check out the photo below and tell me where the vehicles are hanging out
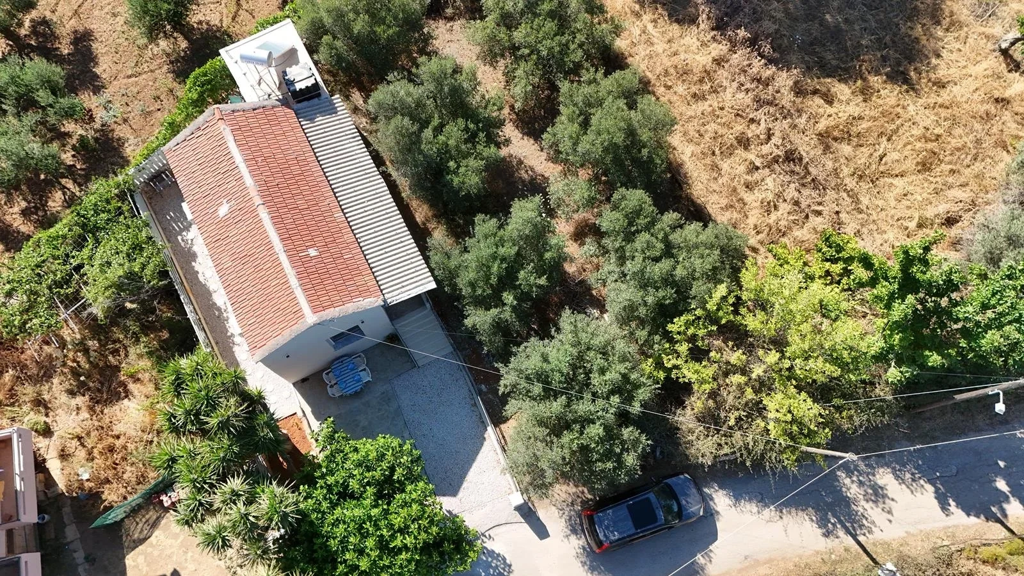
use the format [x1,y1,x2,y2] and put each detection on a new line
[579,473,702,555]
